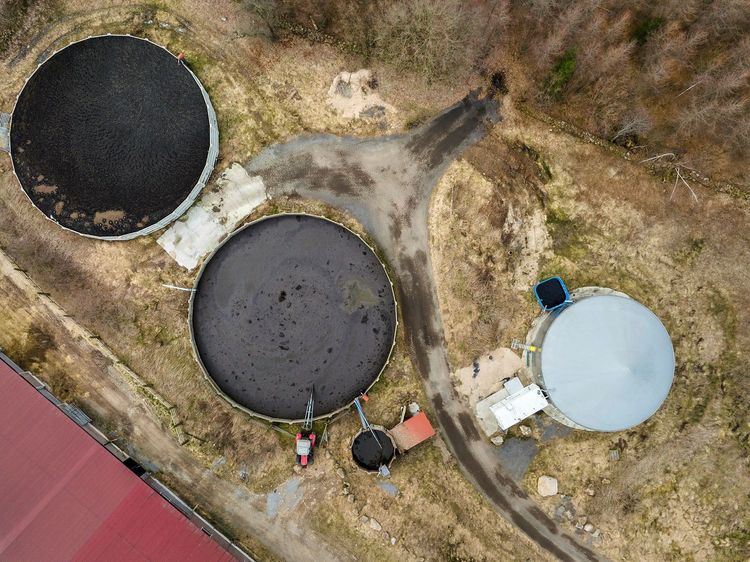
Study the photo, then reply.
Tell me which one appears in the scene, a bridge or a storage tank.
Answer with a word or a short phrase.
storage tank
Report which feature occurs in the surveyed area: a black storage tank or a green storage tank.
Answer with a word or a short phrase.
black storage tank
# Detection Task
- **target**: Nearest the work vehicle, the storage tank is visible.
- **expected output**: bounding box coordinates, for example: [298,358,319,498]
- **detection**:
[188,211,399,423]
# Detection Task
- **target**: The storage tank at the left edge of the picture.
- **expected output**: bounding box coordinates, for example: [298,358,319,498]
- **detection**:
[8,35,218,239]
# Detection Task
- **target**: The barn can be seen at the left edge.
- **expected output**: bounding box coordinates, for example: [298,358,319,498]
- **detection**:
[0,342,264,562]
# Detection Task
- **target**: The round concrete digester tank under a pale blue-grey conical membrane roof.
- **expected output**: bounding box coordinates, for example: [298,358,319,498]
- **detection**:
[522,285,675,432]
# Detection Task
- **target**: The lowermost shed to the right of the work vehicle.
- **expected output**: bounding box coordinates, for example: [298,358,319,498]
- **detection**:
[390,410,436,451]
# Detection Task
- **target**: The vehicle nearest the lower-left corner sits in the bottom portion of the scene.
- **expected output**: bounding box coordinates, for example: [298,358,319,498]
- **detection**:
[294,432,316,464]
